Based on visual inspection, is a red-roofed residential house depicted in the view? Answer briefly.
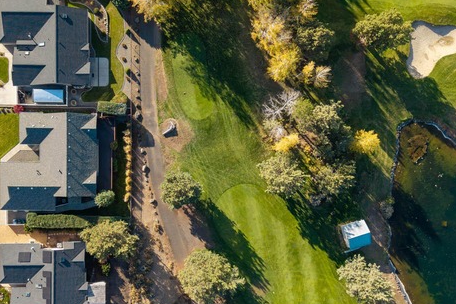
No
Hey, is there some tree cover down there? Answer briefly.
Yes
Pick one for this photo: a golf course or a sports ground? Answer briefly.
golf course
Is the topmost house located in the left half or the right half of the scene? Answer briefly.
left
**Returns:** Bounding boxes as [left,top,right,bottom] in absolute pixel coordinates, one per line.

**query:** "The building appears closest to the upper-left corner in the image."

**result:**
[0,0,91,85]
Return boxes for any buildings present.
[336,220,371,250]
[0,111,98,210]
[0,243,106,304]
[0,0,91,85]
